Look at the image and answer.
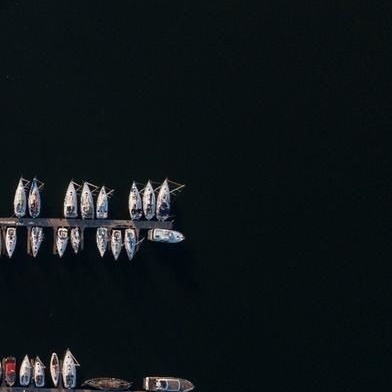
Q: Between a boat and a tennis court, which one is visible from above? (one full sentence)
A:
This aerial view contains a boat.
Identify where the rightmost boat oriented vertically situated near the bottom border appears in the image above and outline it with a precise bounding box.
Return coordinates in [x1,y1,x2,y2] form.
[62,348,81,389]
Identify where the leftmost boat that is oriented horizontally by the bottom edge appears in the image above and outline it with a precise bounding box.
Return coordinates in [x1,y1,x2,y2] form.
[82,378,135,390]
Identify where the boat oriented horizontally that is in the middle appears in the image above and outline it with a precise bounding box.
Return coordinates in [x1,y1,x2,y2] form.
[145,229,185,243]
